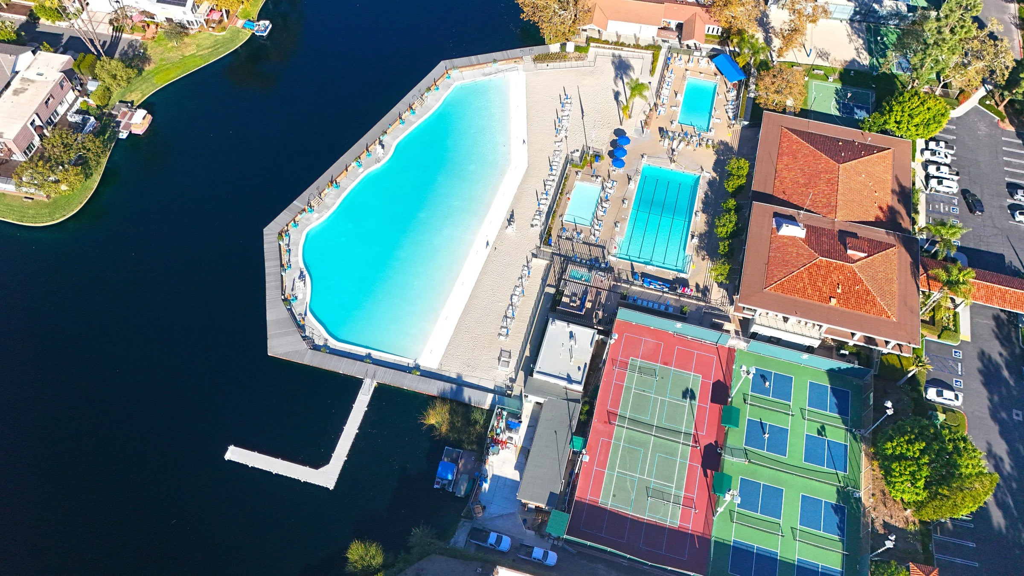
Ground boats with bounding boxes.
[433,445,462,492]
[456,474,468,497]
[119,130,130,139]
[250,20,277,36]
[130,109,153,134]
[465,479,473,496]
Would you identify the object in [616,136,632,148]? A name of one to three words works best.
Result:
umbrella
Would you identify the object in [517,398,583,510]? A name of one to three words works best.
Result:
shed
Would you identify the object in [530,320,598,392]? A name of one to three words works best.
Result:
building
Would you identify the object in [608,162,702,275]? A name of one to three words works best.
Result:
swimming pool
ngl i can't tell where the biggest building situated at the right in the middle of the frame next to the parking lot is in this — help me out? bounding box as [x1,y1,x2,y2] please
[725,111,922,359]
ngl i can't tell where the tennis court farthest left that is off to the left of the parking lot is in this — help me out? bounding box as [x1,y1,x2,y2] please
[570,320,736,576]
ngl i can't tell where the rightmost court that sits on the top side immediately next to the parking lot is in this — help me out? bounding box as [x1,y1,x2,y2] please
[865,23,940,80]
